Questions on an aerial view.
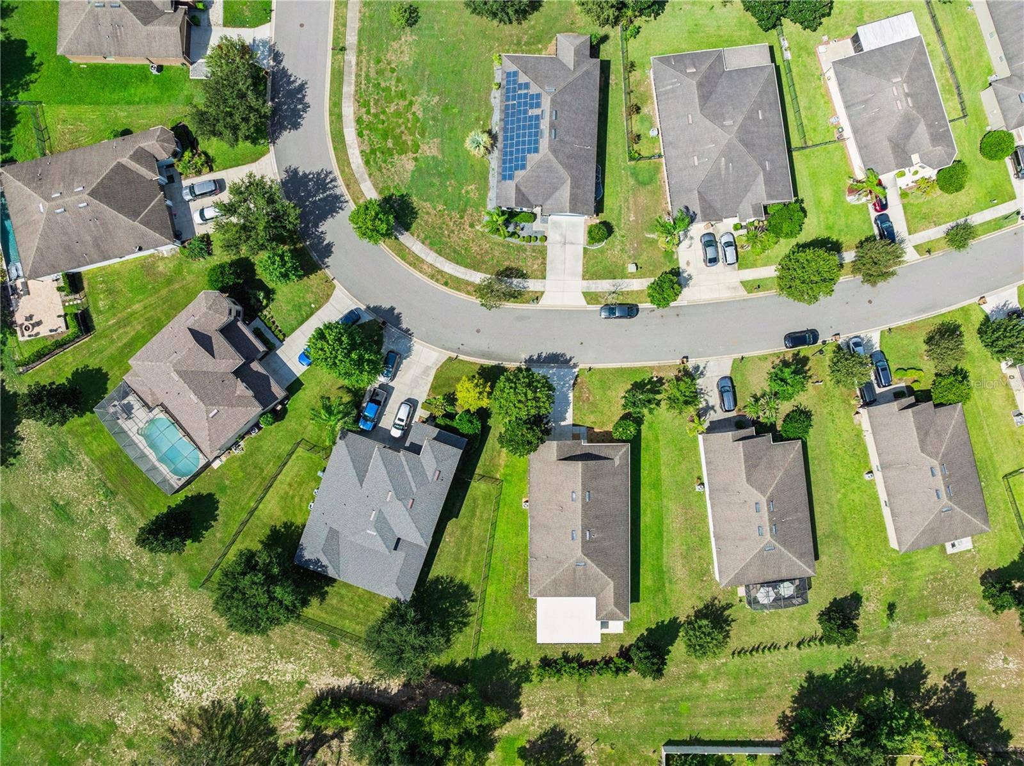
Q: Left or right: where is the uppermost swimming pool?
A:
left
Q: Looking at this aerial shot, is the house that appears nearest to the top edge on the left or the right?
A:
left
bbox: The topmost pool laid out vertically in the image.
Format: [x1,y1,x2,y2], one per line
[0,188,20,264]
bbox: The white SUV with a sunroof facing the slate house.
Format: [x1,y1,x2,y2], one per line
[390,400,414,438]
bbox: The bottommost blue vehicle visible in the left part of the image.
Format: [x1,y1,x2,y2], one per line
[361,385,387,431]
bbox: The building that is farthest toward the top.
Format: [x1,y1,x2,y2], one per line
[57,0,194,65]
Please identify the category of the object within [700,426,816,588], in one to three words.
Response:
house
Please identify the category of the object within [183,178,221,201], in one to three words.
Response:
car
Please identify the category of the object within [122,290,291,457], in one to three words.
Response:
house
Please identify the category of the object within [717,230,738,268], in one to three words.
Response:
car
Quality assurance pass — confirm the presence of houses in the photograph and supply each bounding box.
[860,395,991,554]
[0,126,183,278]
[971,0,1024,134]
[826,11,958,178]
[495,33,601,217]
[528,439,630,643]
[122,290,291,457]
[1006,362,1024,433]
[294,422,468,600]
[650,44,794,224]
[57,0,194,65]
[700,426,816,588]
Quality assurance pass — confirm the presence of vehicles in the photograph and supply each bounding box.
[870,195,888,216]
[390,400,414,438]
[600,303,637,320]
[857,377,881,408]
[379,347,403,385]
[717,230,738,268]
[183,178,221,201]
[870,350,894,389]
[715,375,736,413]
[699,231,719,269]
[871,213,897,249]
[844,331,865,369]
[194,205,231,225]
[361,385,387,431]
[1009,142,1024,189]
[781,328,819,348]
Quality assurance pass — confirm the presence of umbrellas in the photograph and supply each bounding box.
[755,584,775,603]
[777,580,794,598]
